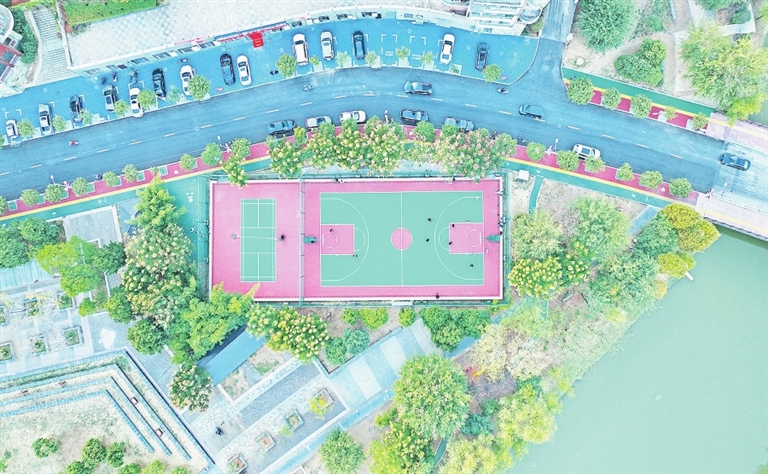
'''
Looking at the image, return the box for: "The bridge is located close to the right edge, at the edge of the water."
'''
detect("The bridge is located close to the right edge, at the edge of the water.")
[685,112,768,240]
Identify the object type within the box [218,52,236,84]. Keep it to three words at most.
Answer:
car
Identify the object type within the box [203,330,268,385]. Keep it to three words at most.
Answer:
shed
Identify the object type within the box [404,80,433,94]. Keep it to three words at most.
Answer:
car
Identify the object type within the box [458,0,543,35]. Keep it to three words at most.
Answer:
building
